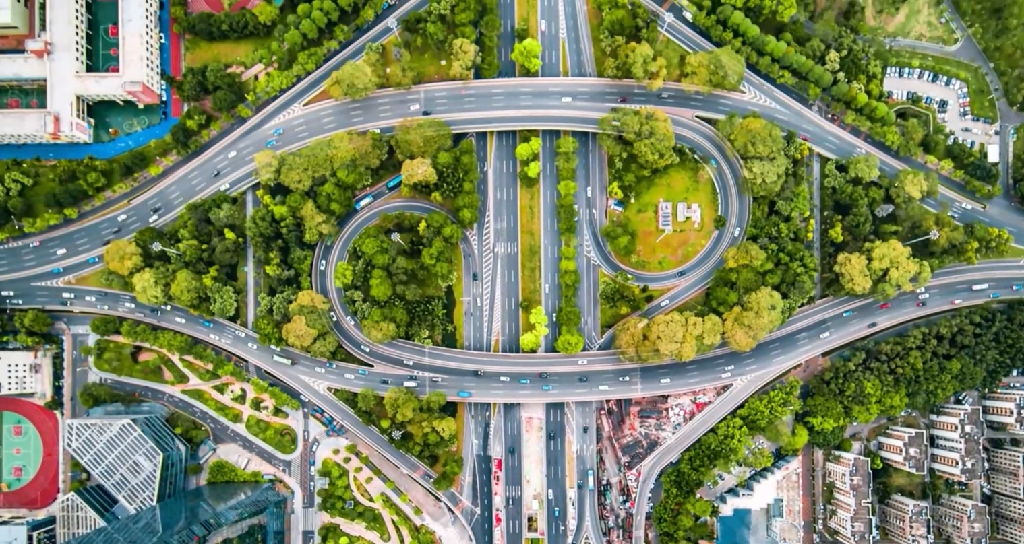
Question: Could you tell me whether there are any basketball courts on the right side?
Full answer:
No, no basketball court can be made out on the right side.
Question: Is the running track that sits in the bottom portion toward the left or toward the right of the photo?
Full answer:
You can find the running track that sits in the bottom portion on the left side of the picture.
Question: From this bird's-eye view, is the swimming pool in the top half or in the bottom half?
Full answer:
The swimming pool sits in the bottom half of the picture.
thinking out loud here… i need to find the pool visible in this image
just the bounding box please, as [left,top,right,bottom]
[716,510,770,544]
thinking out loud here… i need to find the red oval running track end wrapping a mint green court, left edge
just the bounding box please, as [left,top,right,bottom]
[0,397,59,509]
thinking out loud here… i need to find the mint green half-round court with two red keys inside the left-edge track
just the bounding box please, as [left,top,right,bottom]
[0,410,43,492]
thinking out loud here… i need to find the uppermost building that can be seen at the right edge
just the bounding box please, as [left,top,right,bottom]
[977,388,1024,434]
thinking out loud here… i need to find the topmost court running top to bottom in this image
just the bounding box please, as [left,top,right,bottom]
[94,0,120,73]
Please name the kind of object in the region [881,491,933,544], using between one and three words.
building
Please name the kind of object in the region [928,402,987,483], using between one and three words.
building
